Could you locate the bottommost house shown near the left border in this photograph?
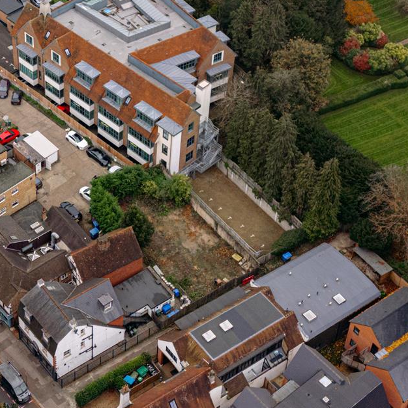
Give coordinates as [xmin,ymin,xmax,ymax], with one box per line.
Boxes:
[14,268,124,380]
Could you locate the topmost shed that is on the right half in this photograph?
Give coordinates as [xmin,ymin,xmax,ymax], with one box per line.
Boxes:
[346,238,396,285]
